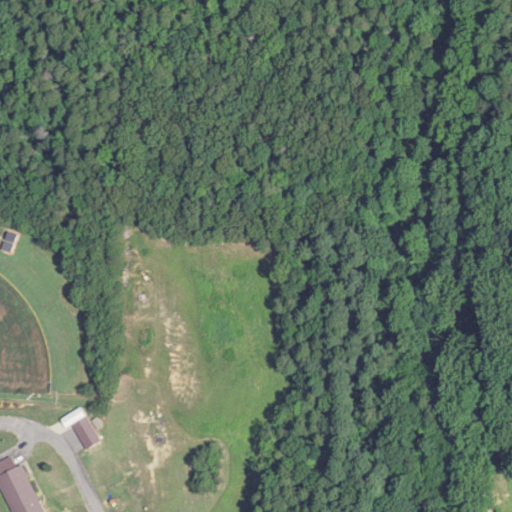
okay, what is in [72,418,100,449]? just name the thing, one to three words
house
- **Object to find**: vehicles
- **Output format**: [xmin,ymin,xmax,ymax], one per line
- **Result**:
[18,440,27,448]
[14,456,24,463]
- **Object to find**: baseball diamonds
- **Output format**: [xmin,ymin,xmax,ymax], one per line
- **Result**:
[0,276,50,392]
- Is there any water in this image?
No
